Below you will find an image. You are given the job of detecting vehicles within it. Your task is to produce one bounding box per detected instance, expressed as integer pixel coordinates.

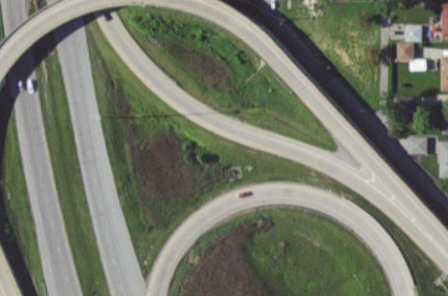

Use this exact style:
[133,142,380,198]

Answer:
[392,30,404,36]
[236,191,252,199]
[441,50,448,56]
[17,80,24,92]
[26,78,34,94]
